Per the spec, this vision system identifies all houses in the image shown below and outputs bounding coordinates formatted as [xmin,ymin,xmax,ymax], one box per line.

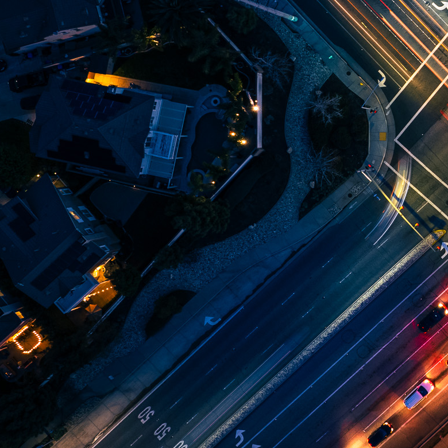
[0,173,125,315]
[0,0,121,55]
[30,71,195,179]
